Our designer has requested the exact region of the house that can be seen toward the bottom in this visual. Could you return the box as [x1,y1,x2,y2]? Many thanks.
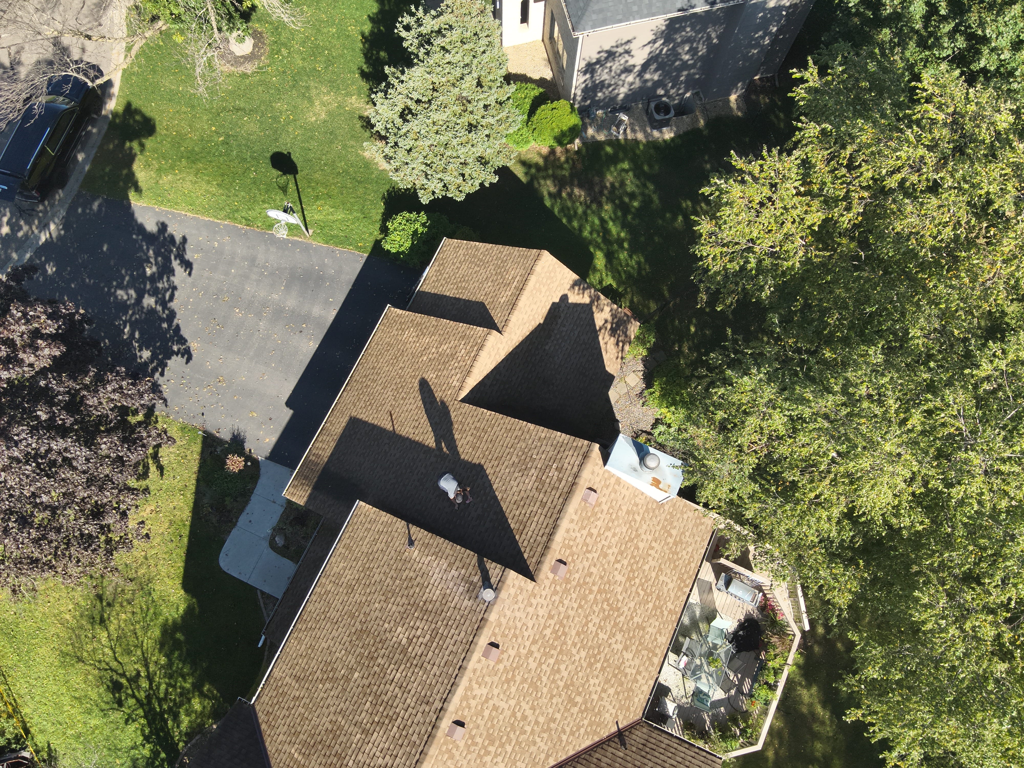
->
[184,238,725,768]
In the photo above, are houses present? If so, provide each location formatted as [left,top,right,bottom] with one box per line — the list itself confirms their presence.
[489,0,807,129]
[184,238,725,768]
